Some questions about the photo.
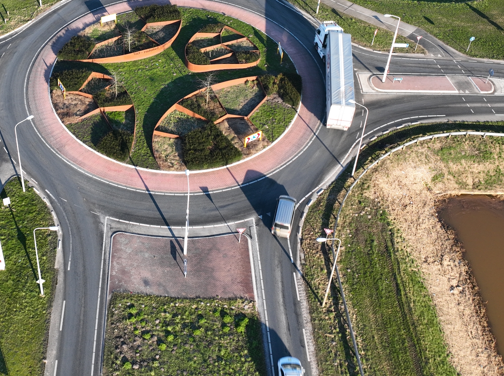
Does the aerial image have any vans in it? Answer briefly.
Yes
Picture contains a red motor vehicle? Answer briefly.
No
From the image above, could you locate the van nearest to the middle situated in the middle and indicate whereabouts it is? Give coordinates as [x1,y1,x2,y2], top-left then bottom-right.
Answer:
[270,196,298,239]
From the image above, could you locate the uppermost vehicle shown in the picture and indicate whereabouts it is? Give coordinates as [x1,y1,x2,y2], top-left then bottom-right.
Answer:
[313,17,342,63]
